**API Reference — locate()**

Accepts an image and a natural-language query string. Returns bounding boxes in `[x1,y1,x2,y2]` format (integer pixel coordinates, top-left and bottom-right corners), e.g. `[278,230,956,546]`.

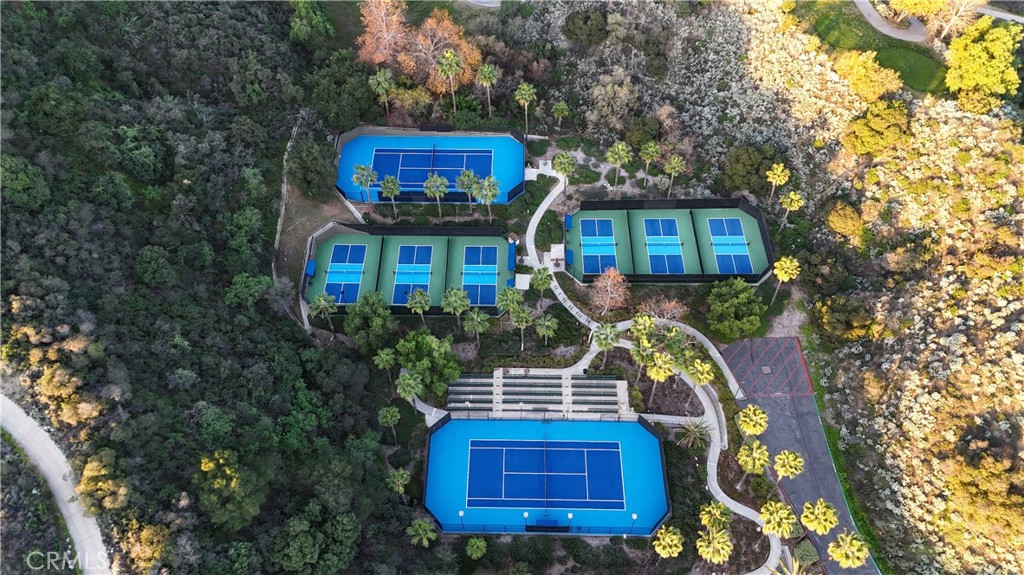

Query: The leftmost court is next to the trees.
[306,235,383,305]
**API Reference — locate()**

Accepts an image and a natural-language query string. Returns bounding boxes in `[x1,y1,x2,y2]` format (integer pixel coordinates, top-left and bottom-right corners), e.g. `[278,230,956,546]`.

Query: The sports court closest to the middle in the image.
[445,236,515,315]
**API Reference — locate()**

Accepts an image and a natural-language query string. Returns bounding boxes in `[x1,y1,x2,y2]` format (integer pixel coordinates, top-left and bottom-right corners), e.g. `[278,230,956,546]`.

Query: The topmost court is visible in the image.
[337,135,525,202]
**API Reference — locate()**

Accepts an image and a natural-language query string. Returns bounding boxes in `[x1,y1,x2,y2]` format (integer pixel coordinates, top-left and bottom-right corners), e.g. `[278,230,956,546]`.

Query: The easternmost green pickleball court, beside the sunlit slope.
[690,209,769,274]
